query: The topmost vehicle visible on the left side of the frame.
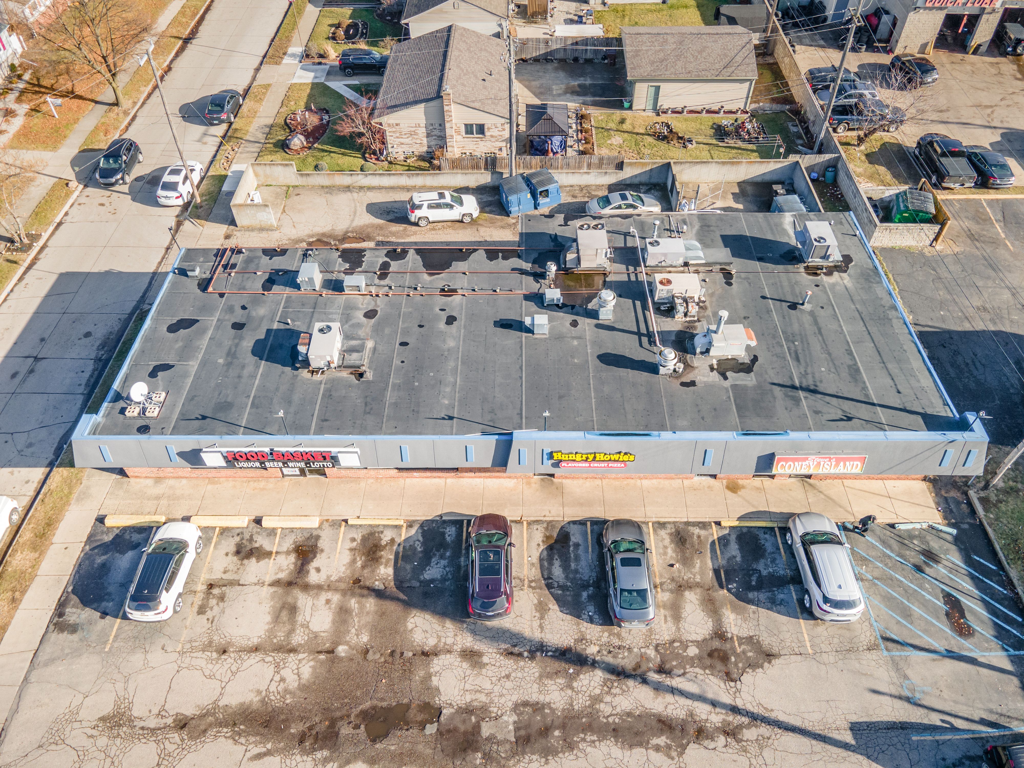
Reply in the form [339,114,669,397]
[339,49,389,76]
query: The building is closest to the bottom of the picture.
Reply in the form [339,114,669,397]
[70,214,990,478]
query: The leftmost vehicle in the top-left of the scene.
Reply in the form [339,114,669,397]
[98,135,142,183]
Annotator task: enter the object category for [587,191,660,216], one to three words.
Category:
car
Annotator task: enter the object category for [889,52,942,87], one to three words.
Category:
car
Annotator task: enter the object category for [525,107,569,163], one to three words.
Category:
gazebo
